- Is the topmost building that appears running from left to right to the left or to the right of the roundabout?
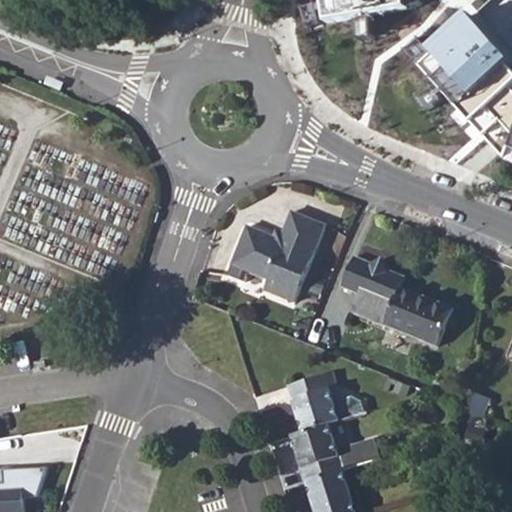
to the right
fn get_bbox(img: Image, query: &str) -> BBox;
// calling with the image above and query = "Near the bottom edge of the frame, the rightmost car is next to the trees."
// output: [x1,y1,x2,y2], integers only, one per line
[198,488,222,502]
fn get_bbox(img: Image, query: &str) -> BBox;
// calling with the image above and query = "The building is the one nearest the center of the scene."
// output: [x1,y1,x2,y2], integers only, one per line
[228,211,326,304]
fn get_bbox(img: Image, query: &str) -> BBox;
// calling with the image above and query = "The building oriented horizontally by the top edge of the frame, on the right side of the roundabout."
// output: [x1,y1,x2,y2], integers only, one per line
[318,0,405,38]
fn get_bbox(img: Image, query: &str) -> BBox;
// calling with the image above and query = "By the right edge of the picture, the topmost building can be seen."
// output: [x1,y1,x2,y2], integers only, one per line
[416,10,512,163]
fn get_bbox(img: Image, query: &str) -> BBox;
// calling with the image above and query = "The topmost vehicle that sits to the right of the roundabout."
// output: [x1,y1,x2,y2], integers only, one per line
[431,174,454,188]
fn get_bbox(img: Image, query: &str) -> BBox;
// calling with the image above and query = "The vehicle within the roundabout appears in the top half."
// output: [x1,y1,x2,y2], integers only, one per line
[213,177,232,196]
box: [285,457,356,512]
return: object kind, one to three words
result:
house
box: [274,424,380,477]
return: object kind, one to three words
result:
house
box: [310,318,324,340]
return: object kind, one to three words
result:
car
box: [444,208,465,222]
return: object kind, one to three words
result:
car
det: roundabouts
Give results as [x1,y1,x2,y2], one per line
[133,25,314,222]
